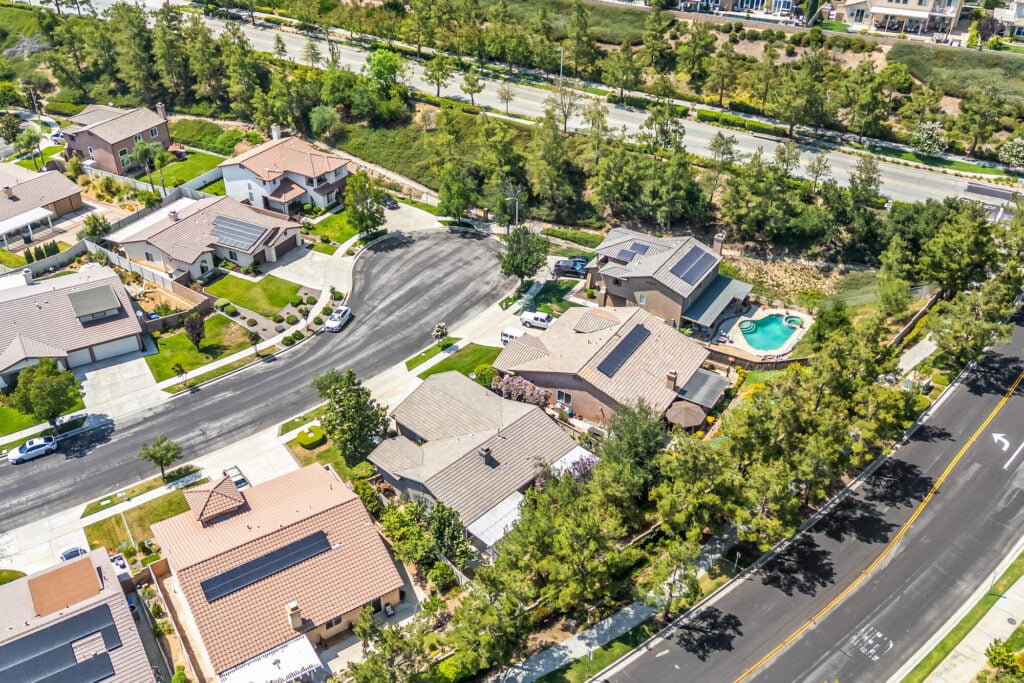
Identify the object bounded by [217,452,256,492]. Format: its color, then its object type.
white truck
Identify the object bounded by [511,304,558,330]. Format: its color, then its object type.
white truck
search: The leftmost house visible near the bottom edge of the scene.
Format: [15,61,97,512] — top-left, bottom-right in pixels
[0,546,179,683]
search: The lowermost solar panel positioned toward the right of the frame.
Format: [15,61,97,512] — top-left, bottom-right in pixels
[598,321,653,373]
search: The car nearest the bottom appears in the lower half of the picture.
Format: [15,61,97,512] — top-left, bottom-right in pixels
[53,534,88,564]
